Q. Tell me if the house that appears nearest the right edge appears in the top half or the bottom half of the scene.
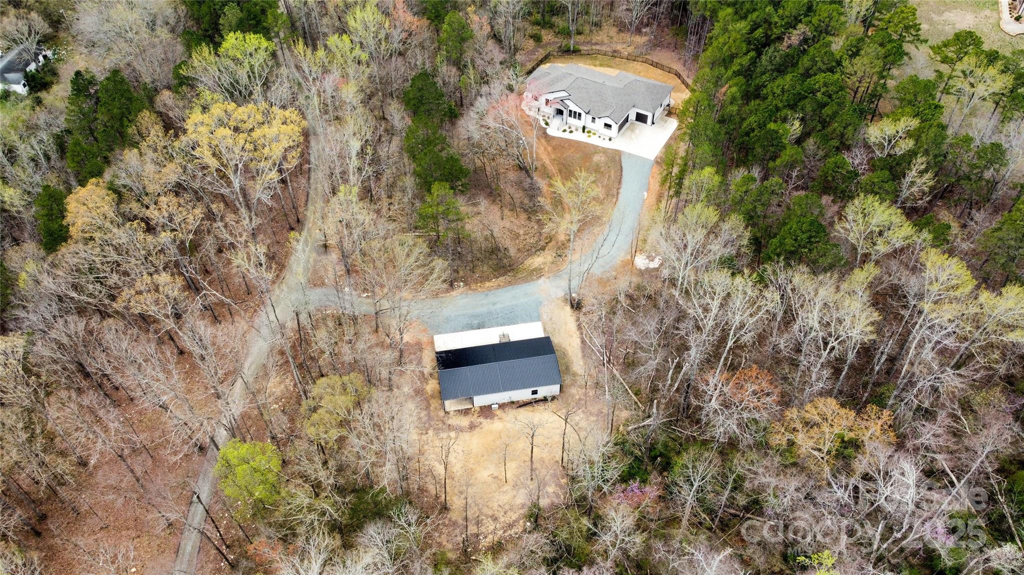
top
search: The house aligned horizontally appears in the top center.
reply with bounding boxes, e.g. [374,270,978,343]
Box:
[525,62,677,137]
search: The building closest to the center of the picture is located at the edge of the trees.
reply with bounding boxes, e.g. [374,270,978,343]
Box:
[433,322,564,412]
